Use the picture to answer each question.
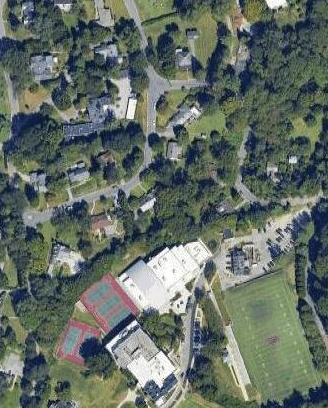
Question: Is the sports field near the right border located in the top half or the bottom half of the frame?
bottom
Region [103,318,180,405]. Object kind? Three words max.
building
